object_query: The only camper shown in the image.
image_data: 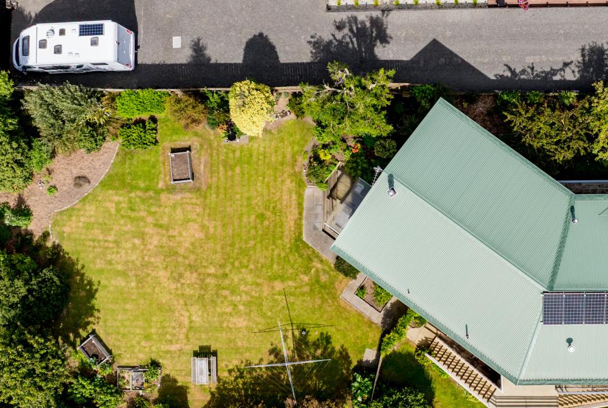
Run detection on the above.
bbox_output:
[13,18,141,70]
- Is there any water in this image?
No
